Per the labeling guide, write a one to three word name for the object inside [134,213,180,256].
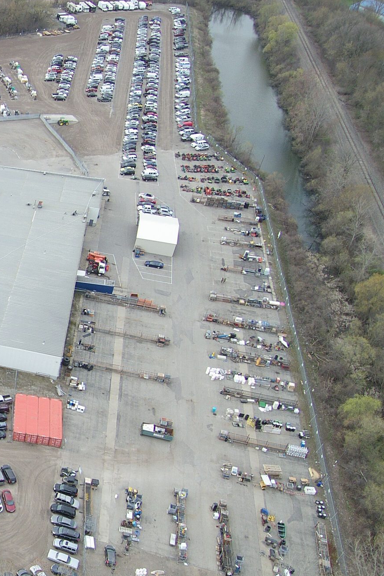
shed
